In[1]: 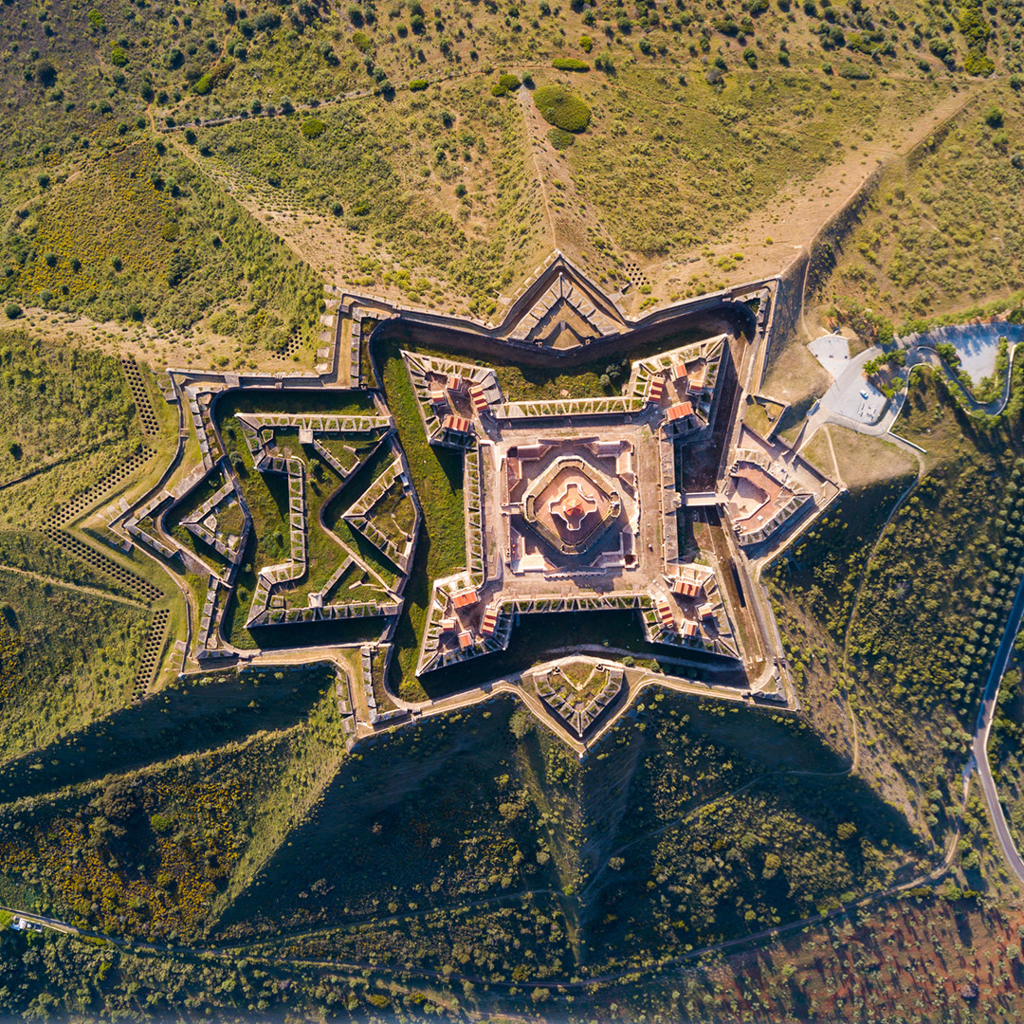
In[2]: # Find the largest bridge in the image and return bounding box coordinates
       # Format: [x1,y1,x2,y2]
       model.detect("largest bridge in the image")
[680,488,727,511]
